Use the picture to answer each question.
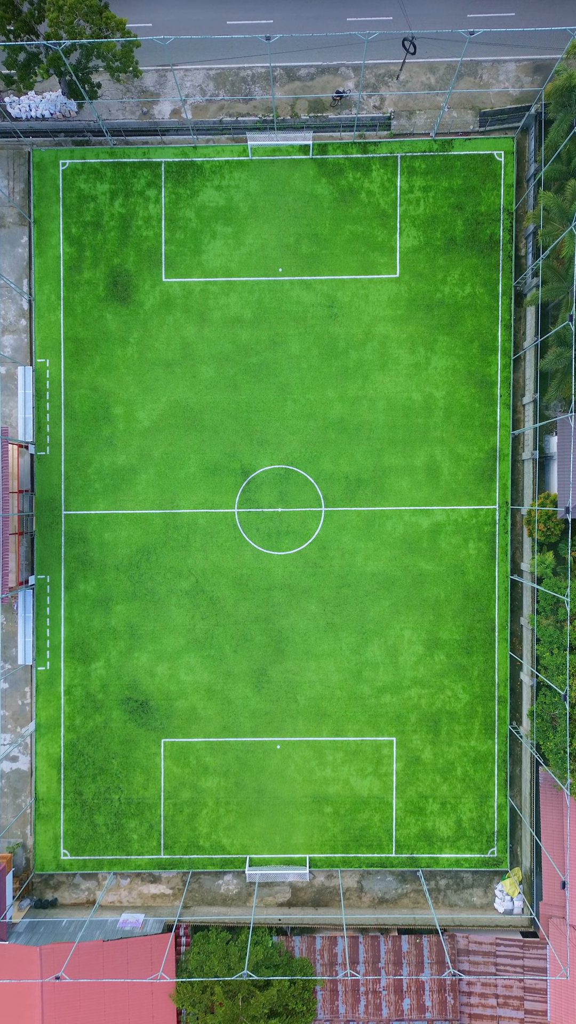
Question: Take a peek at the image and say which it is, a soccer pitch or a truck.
soccer pitch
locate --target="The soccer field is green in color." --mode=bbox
[32,136,515,873]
